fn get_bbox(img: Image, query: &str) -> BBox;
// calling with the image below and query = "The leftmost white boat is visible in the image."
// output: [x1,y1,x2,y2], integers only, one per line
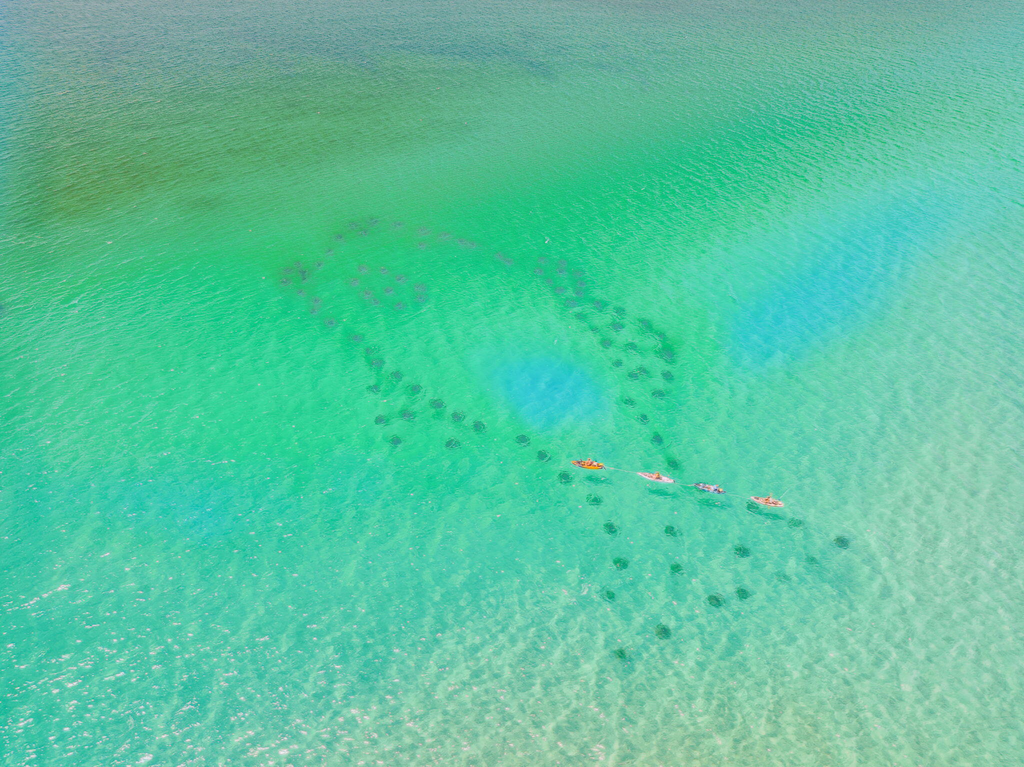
[637,471,677,485]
